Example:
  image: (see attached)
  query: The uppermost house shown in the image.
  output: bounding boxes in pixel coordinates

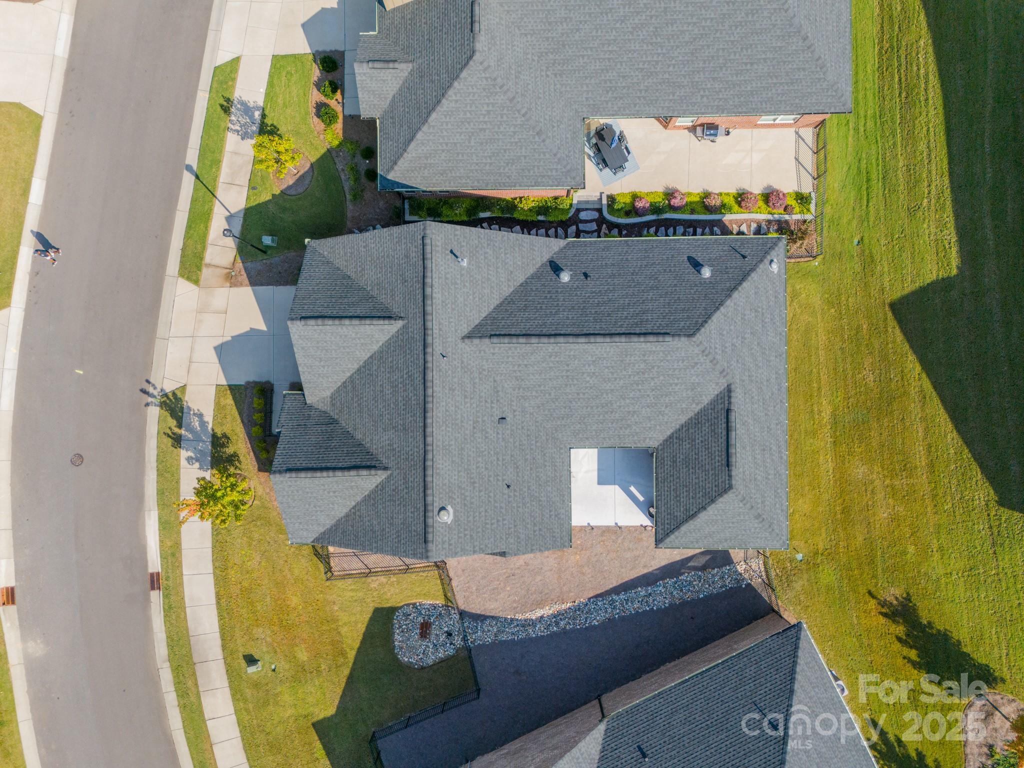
[354,0,854,201]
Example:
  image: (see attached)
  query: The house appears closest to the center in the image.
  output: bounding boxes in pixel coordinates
[271,222,791,560]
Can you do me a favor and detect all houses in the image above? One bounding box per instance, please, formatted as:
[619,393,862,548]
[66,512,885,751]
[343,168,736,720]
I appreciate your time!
[271,222,791,560]
[354,0,854,201]
[447,611,876,768]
